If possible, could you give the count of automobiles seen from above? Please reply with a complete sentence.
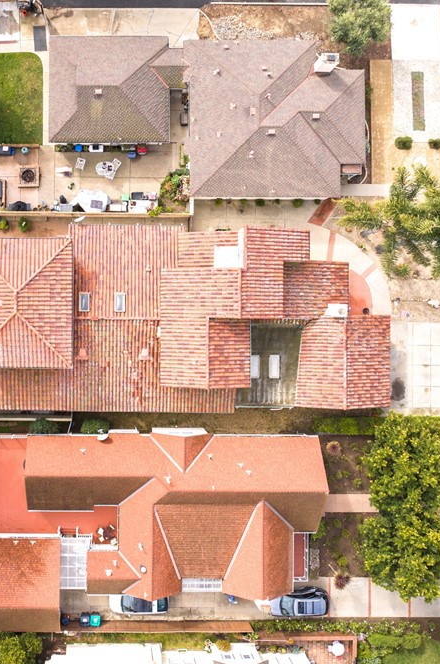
The count of automobiles comes to 2.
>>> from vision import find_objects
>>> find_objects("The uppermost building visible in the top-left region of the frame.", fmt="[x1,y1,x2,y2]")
[48,34,187,145]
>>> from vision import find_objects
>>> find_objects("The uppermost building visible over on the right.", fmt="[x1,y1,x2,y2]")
[183,39,366,198]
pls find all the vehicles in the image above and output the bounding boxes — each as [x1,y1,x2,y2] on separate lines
[268,589,329,621]
[106,594,166,618]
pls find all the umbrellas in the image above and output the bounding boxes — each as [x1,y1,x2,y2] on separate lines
[330,639,343,655]
[75,183,105,217]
